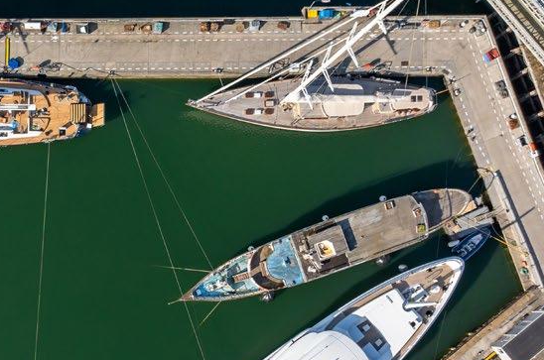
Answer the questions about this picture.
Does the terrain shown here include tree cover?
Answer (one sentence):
No, there is no tree cover in the image.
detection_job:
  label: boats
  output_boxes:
[168,188,474,304]
[188,0,441,133]
[0,62,105,149]
[452,226,491,260]
[256,257,465,360]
